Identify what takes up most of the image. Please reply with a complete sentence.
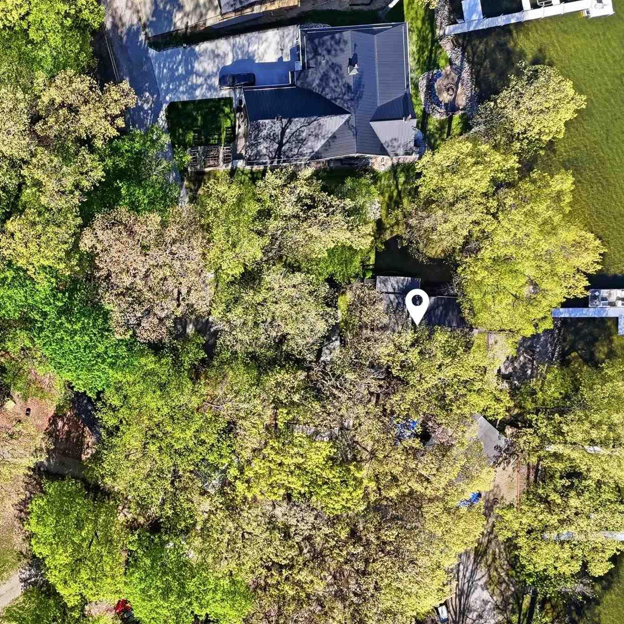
The bulk of the photo consists of trees.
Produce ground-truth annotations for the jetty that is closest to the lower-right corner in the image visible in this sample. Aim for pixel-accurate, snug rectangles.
[545,529,624,542]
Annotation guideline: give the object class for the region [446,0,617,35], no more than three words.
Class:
pier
